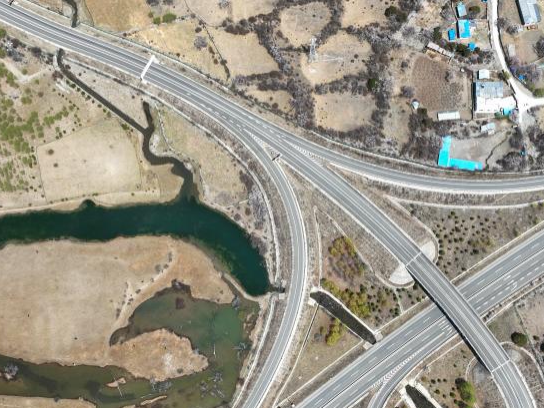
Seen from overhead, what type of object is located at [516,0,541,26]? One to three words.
house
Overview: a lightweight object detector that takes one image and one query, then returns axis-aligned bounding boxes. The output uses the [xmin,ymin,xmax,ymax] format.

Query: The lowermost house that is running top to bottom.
[437,135,452,166]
